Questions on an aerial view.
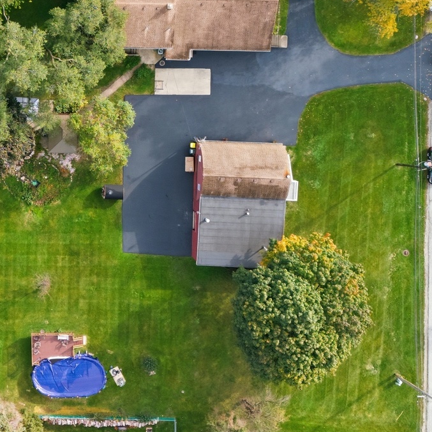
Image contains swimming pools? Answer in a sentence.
Yes, there is a swimming pool in the image.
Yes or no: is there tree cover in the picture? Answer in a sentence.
Yes, tree cover can be seen from above here.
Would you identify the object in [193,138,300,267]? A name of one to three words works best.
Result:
building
